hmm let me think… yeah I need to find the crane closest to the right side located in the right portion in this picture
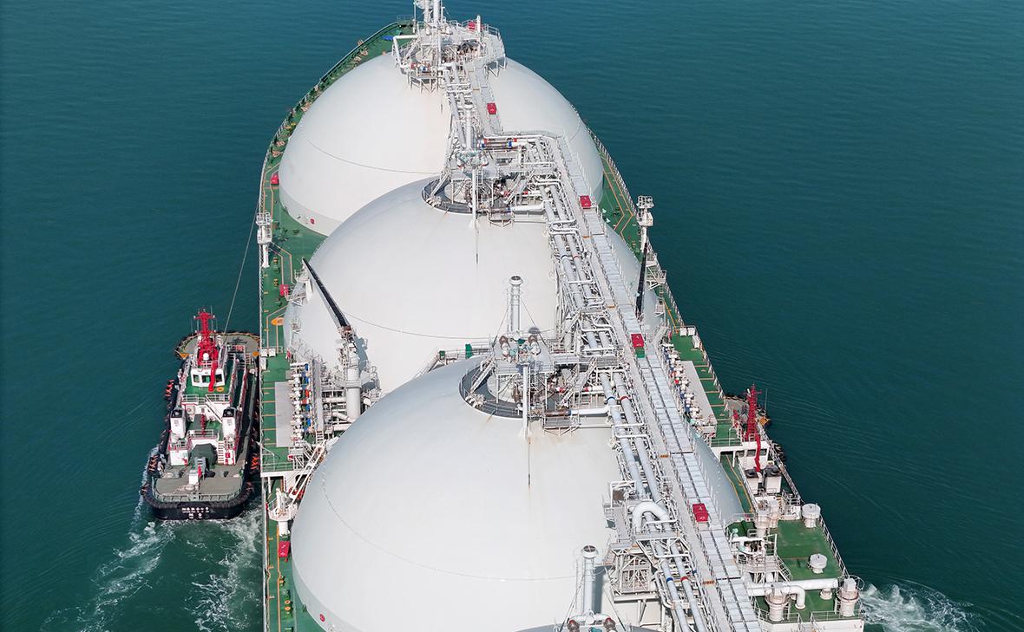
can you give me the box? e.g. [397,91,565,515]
[634,245,657,346]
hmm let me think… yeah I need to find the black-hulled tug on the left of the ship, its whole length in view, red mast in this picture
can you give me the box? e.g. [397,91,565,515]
[139,309,261,520]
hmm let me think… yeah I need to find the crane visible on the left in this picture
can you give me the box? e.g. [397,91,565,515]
[288,254,388,407]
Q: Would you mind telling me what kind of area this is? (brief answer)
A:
industrial area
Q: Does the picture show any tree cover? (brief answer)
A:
No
